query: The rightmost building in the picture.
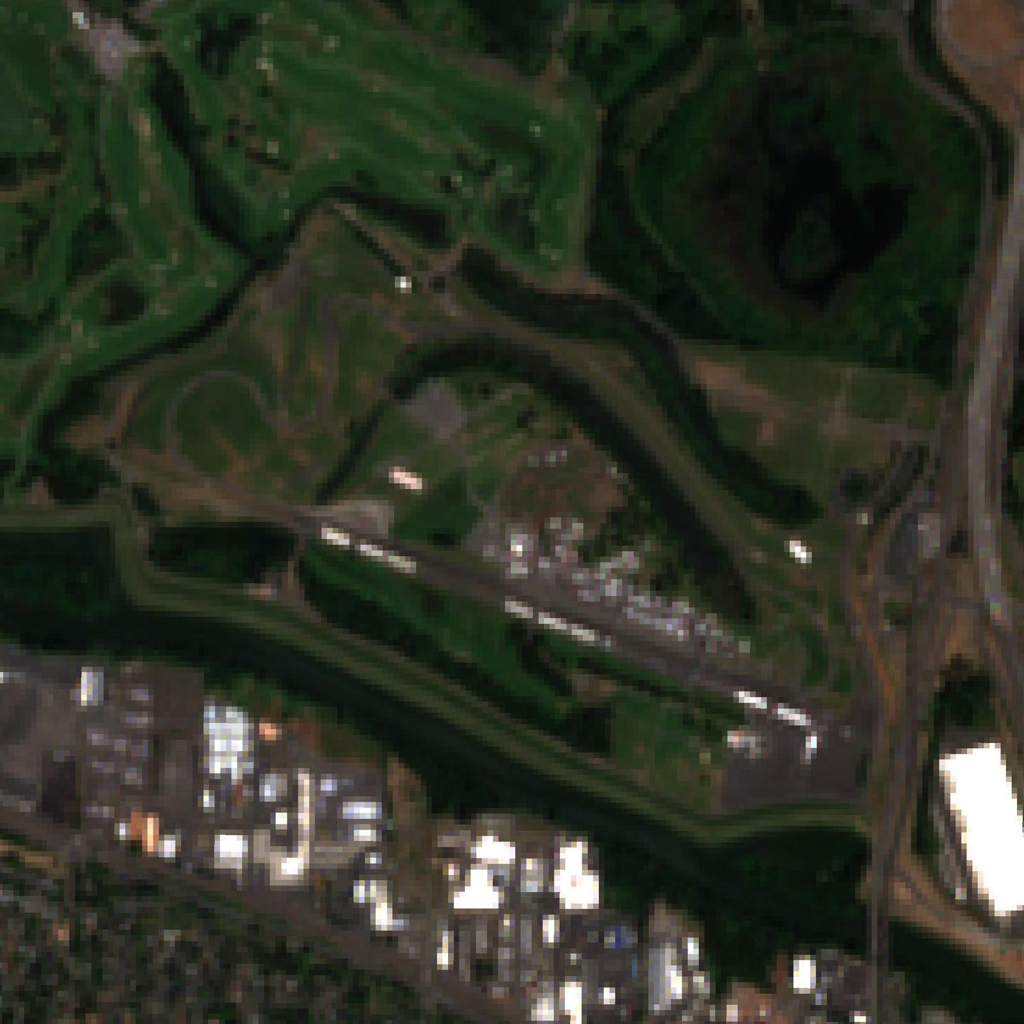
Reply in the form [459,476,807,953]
[940,741,1024,917]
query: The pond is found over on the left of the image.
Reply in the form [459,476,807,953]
[330,192,446,246]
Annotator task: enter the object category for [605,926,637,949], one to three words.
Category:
shed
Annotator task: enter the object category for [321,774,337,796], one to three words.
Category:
shed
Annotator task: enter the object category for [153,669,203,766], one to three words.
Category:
building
